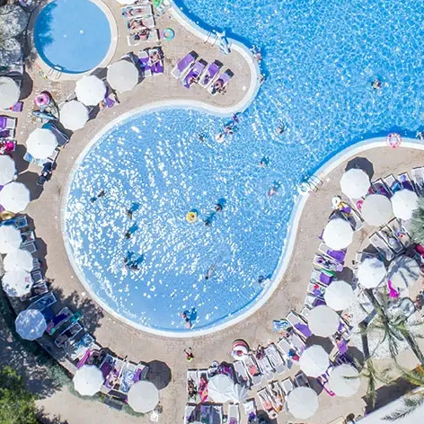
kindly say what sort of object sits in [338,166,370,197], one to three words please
umbrella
